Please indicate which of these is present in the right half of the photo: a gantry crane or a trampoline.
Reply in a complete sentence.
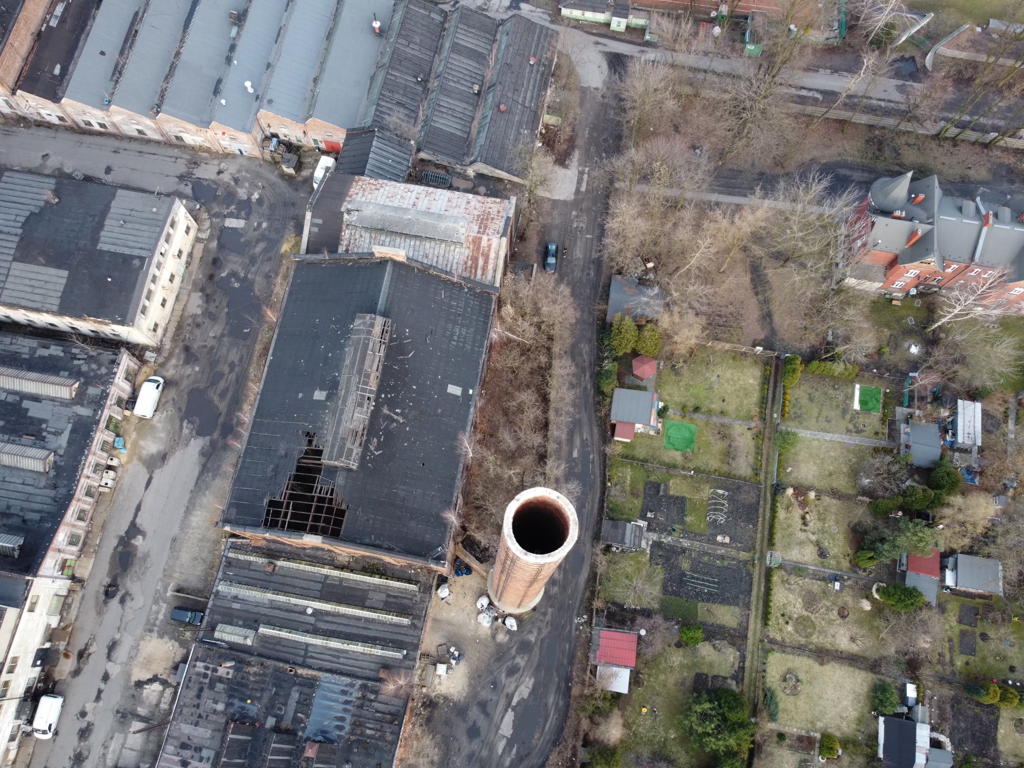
There is a trampoline in the right half of the photo.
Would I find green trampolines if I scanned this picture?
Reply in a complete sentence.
Yes, the picture does show a green trampoline.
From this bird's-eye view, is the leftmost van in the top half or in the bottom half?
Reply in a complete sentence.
Seen from above, the leftmost van lies in the bottom half of the view.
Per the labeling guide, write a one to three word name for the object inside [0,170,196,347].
building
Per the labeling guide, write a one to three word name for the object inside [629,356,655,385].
gazebo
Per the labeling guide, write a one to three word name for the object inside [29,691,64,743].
van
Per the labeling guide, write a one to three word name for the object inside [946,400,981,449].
shed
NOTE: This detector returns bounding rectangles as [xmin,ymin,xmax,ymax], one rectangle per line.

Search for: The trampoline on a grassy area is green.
[664,420,696,452]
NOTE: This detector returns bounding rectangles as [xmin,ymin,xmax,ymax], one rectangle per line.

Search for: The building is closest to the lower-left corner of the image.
[0,570,80,768]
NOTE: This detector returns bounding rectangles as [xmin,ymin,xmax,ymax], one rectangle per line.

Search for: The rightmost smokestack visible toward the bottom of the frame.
[486,488,577,616]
